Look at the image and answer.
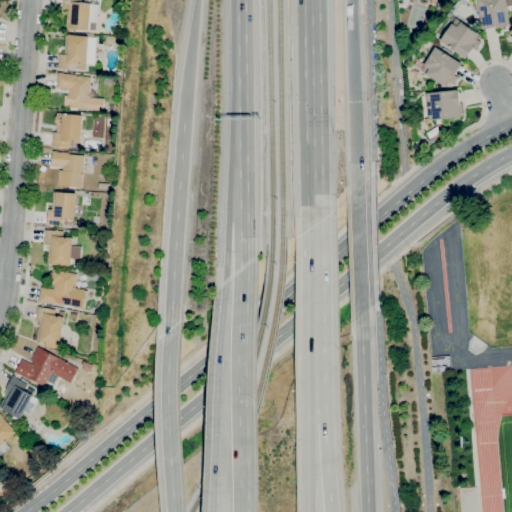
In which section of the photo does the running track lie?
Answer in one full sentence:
You can find the running track in the bottom right area of the picture.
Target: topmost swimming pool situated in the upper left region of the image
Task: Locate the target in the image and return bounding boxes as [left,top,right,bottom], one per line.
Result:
[104,10,120,32]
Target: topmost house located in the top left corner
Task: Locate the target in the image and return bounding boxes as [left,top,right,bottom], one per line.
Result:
[62,0,97,30]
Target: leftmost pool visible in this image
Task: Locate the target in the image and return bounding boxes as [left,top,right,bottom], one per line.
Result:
[44,434,72,448]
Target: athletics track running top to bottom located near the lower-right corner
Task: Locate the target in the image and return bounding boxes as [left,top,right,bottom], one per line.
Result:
[470,368,512,512]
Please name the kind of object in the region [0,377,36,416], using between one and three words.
house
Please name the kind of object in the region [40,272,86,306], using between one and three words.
house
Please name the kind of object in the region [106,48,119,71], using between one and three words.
swimming pool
